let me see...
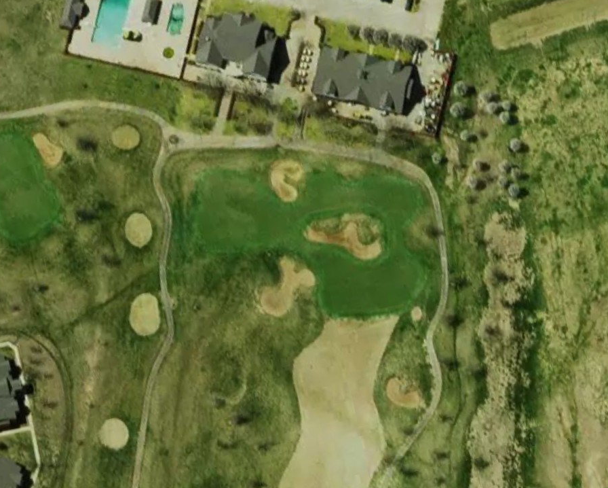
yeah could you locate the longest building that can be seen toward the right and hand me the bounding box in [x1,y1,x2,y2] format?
[318,47,419,110]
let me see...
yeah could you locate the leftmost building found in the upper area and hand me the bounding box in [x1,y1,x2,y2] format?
[59,0,87,31]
